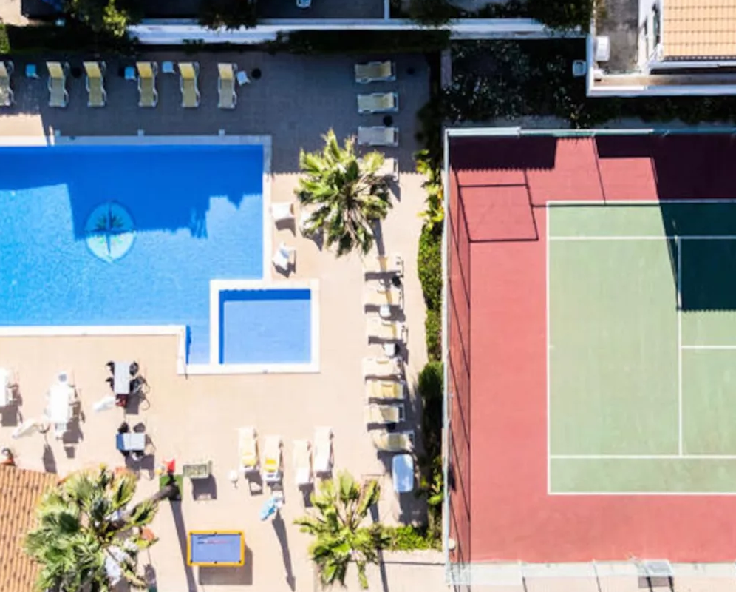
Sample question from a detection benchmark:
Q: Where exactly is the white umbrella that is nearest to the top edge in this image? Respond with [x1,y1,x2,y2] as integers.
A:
[94,394,124,407]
